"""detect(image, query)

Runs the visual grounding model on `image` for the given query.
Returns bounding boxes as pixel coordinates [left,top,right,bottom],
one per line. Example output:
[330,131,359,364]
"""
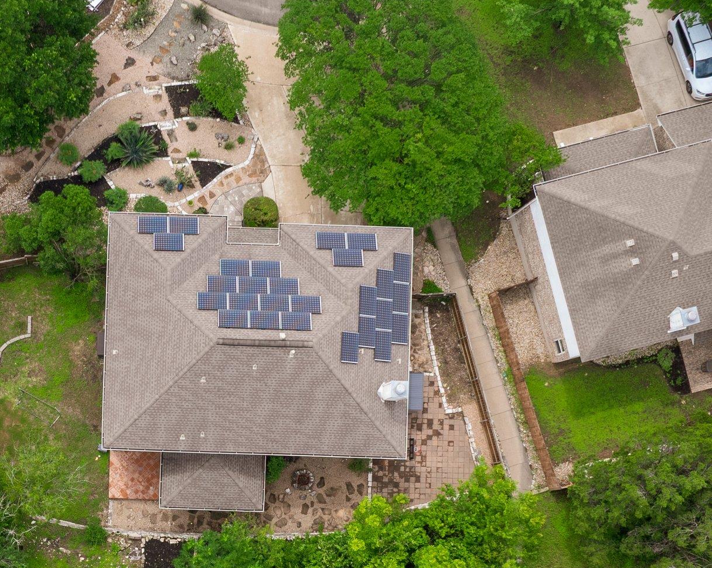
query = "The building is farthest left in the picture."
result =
[100,209,415,513]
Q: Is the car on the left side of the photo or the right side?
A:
right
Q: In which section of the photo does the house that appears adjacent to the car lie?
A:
right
